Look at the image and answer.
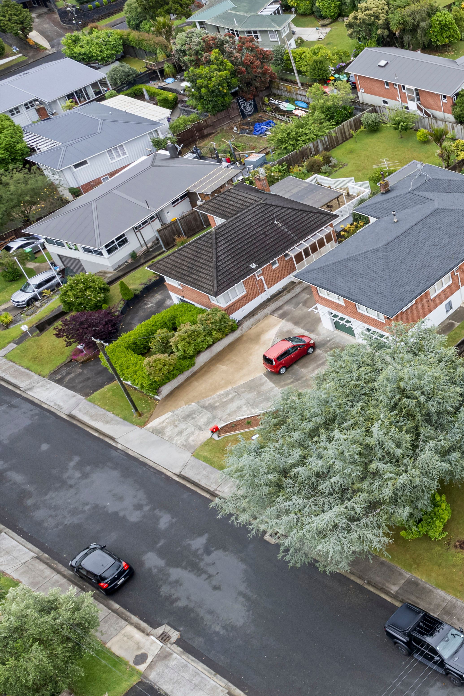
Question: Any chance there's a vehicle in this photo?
Yes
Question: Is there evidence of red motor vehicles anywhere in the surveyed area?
Yes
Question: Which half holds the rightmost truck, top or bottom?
bottom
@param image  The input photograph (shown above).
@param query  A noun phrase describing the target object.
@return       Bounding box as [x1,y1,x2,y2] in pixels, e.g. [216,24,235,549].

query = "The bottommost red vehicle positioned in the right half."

[257,336,313,373]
